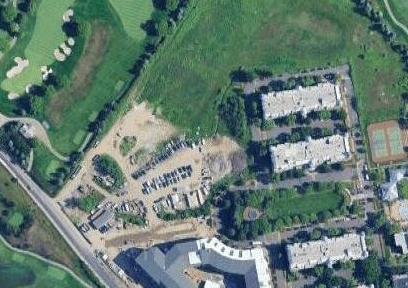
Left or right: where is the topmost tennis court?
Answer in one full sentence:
You can find the topmost tennis court on the right side of the picture.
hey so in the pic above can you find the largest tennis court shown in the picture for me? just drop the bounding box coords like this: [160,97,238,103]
[368,119,405,163]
